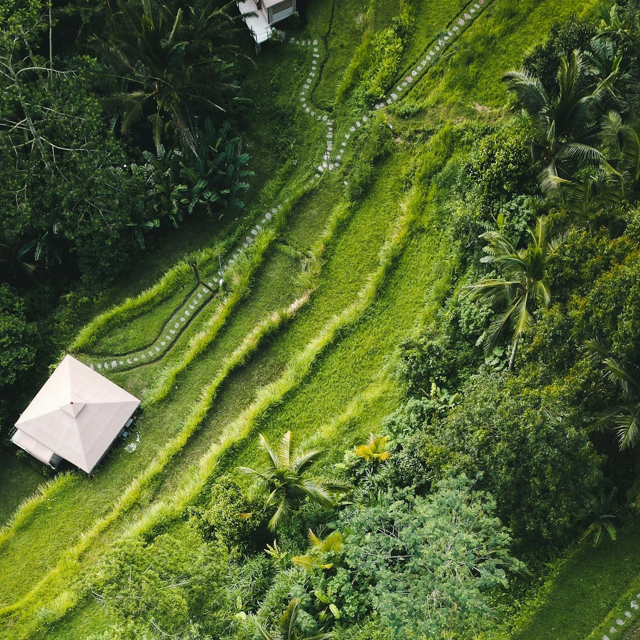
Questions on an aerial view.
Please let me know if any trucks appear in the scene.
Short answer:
No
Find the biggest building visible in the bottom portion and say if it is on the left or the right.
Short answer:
left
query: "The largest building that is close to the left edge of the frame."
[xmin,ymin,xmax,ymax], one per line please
[8,358,142,476]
